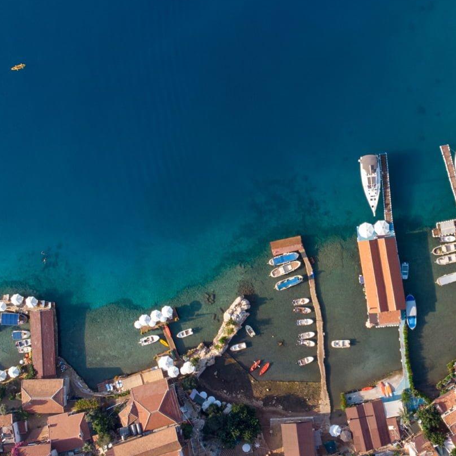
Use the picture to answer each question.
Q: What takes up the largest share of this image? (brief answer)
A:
water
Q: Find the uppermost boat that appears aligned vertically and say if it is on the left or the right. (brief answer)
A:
right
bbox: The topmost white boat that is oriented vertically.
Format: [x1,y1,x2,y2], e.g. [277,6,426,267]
[361,154,381,216]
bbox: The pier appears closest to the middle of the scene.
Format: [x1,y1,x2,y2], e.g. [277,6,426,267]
[270,236,304,256]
